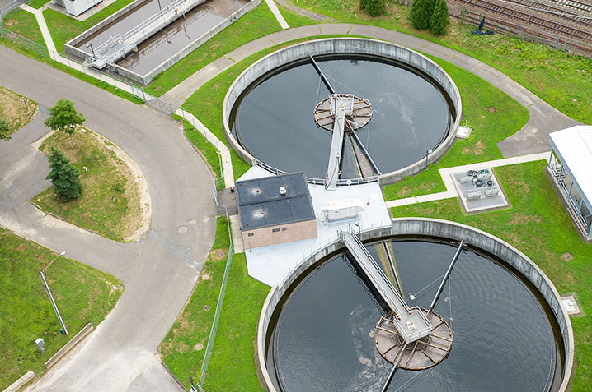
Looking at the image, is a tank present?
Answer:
Yes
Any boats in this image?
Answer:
No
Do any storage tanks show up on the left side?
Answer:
Yes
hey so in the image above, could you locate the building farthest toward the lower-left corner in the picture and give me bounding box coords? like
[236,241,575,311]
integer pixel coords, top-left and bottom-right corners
[241,171,324,250]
